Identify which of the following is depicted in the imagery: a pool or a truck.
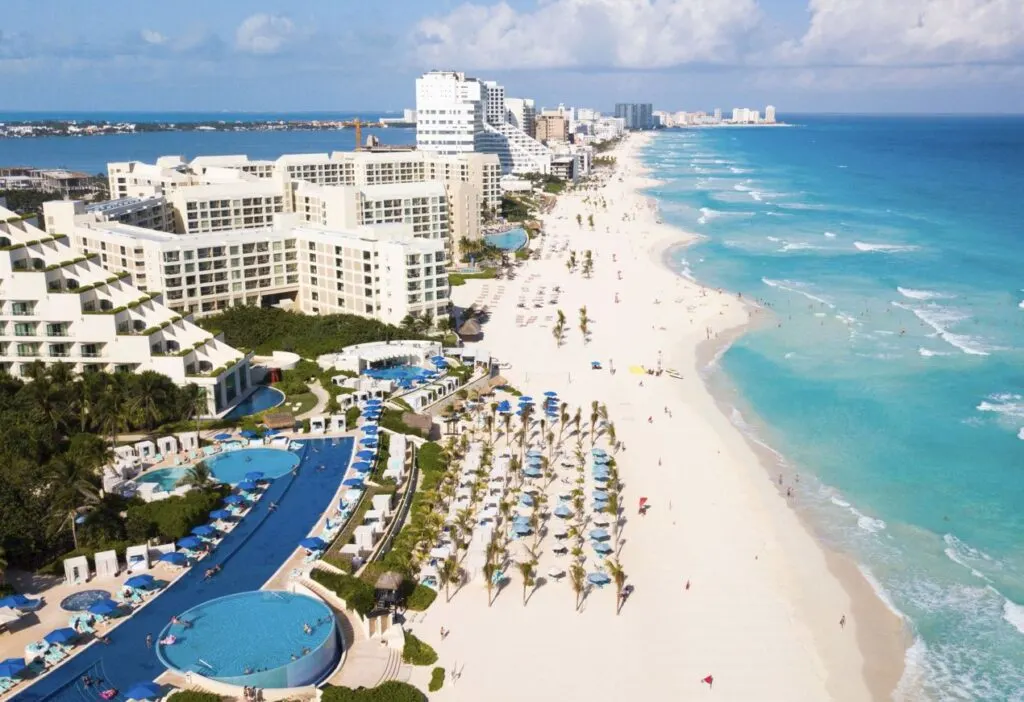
pool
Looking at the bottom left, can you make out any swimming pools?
Yes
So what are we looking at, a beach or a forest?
beach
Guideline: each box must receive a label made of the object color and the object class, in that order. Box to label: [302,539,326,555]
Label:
blue umbrella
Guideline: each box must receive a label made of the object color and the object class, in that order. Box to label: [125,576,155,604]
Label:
blue umbrella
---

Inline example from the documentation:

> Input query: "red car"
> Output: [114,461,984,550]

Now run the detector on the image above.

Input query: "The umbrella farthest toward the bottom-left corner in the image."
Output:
[0,660,30,693]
